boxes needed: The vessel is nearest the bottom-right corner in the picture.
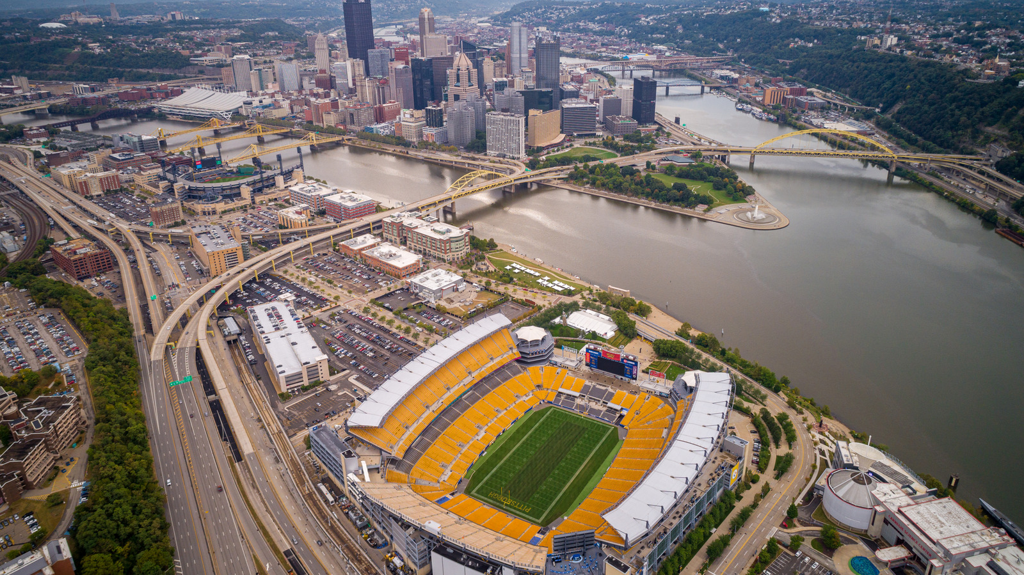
[981,500,1024,543]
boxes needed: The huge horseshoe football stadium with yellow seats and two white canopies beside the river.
[337,306,753,575]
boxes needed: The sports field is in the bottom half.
[467,406,621,525]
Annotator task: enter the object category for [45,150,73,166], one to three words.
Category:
building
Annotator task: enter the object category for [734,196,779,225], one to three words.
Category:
fountain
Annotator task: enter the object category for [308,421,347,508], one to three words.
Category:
building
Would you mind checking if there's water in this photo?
Yes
